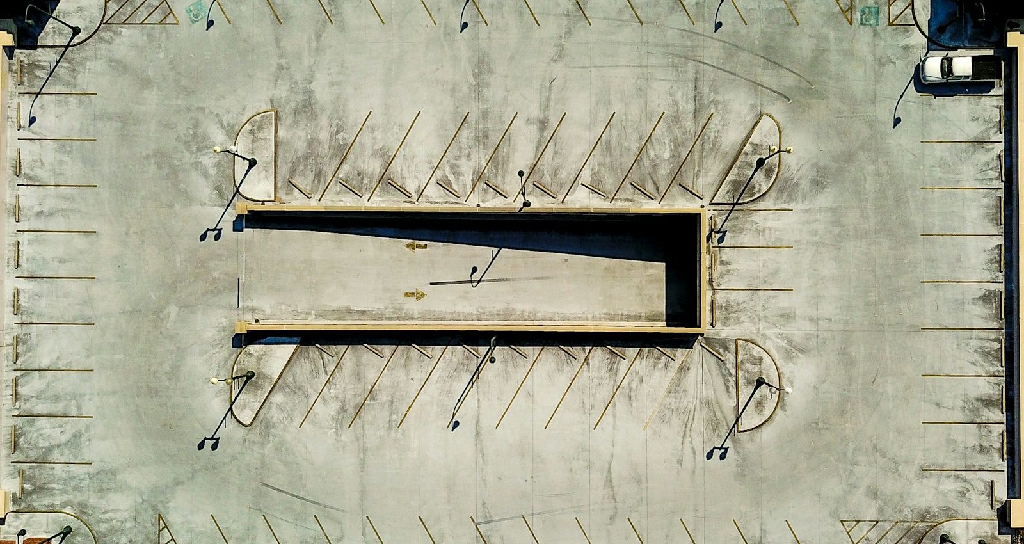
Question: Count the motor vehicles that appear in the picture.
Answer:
1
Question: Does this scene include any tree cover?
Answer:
No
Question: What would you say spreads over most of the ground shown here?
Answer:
paved ground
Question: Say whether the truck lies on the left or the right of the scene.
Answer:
right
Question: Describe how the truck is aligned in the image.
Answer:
from left to right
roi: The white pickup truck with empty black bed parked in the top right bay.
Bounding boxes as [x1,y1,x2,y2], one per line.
[918,52,1002,86]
